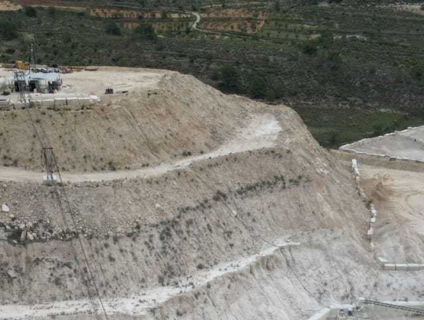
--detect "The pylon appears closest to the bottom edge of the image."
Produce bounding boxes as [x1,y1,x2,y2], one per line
[39,133,57,179]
